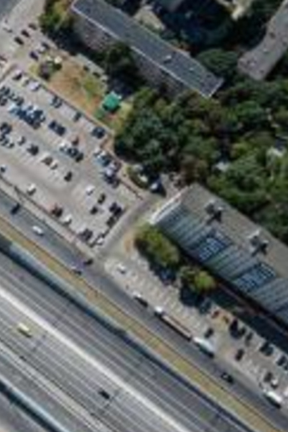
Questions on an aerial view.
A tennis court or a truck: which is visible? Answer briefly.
truck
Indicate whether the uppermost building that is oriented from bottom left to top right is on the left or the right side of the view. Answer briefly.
right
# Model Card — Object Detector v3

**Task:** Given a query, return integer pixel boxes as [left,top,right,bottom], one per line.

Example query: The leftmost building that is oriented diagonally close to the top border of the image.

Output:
[69,0,223,110]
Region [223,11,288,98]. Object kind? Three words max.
building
